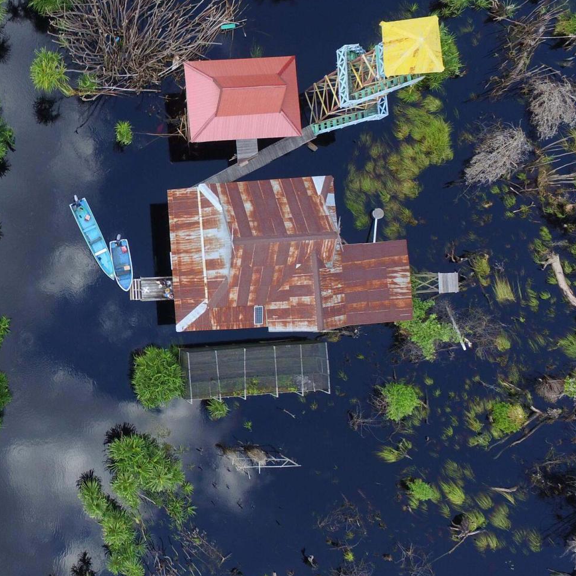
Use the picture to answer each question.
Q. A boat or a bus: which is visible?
boat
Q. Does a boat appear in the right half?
No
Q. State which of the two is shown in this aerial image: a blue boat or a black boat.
blue boat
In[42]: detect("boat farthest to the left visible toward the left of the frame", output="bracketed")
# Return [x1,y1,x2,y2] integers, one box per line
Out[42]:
[70,194,115,281]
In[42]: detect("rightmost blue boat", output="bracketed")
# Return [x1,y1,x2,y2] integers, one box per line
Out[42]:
[109,232,132,291]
